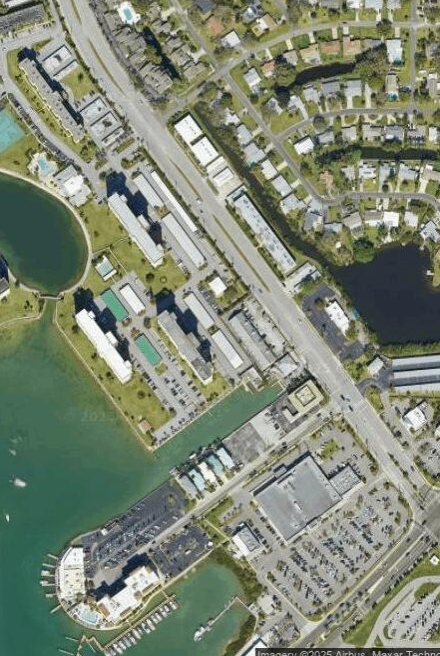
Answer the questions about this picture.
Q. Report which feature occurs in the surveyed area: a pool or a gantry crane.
pool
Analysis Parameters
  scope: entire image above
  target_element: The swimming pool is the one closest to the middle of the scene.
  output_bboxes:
[95,257,116,280]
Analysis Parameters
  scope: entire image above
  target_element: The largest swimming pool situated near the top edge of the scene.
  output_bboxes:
[119,1,140,23]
